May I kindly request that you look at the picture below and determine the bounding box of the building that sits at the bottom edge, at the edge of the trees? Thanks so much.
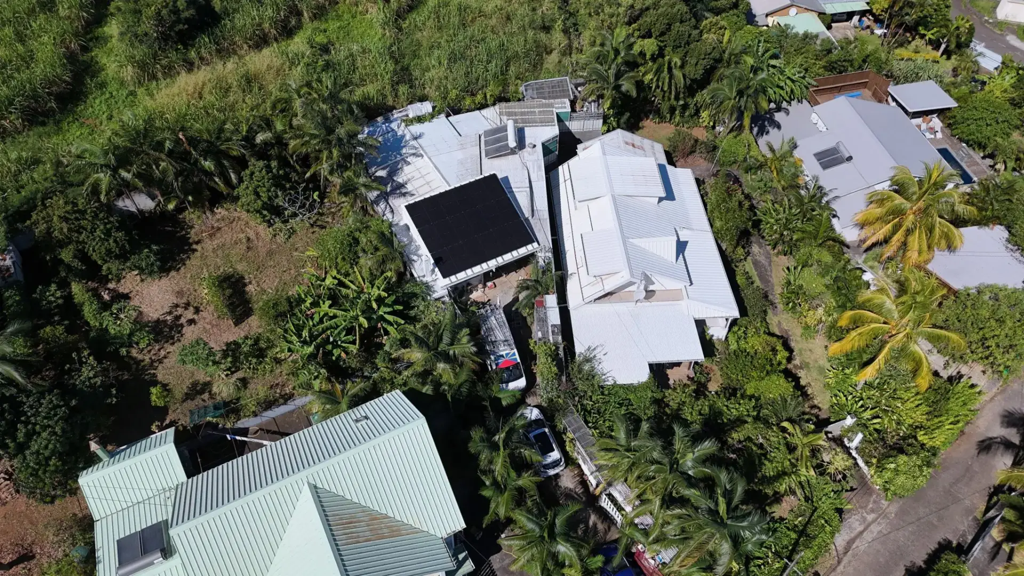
[79,390,479,576]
